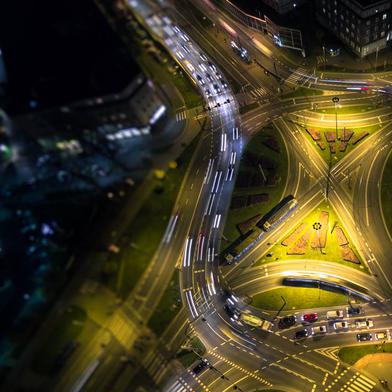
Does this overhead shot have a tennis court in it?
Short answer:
No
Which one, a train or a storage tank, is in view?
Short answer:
train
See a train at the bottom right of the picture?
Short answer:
Yes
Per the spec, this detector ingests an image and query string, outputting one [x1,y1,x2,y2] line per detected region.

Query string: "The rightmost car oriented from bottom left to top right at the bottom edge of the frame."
[192,359,208,375]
